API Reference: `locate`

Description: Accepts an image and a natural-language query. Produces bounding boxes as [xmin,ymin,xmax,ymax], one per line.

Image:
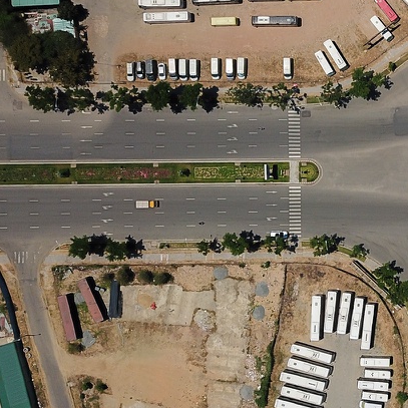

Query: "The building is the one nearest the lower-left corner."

[0,340,39,408]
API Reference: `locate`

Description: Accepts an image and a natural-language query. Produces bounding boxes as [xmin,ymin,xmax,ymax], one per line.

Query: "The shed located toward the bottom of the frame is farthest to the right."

[78,278,108,322]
